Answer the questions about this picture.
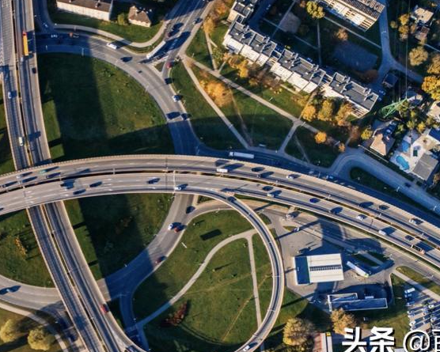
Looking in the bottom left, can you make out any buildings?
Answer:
No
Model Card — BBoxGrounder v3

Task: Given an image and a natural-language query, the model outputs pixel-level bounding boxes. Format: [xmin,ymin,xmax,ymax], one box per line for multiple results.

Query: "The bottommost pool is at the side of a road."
[394,155,410,171]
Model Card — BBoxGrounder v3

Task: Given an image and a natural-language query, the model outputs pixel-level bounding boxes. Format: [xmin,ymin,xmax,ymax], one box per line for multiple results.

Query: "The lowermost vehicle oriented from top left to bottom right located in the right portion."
[347,261,369,278]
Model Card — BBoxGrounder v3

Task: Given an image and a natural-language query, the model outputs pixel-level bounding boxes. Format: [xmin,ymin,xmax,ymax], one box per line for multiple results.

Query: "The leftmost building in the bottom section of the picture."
[291,256,312,284]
